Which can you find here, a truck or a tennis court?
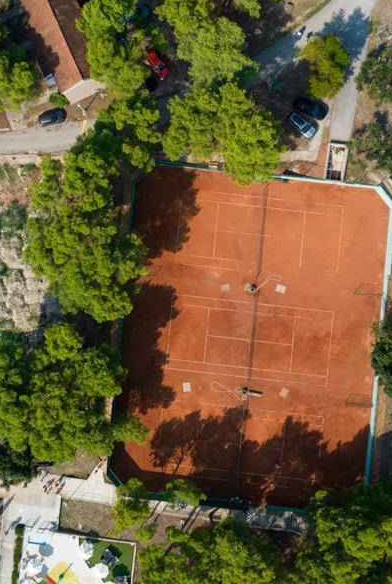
tennis court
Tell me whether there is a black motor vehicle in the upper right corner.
Yes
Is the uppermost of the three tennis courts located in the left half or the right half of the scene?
right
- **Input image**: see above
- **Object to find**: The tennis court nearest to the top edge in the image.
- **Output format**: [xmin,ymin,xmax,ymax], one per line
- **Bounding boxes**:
[130,163,392,288]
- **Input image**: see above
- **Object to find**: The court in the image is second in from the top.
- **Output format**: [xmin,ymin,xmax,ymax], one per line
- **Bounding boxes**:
[115,260,387,392]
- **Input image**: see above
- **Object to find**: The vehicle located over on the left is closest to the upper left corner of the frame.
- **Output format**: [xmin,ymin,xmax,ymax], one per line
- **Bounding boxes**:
[35,108,65,126]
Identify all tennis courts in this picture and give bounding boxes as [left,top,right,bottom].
[130,163,392,288]
[109,365,378,509]
[115,260,387,392]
